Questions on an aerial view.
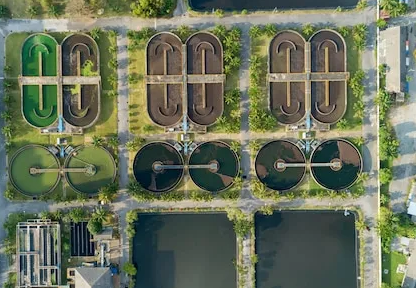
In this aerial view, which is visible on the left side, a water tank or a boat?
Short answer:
water tank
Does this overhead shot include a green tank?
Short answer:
Yes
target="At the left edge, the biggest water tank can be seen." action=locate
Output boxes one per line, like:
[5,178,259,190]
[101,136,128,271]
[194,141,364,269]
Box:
[20,32,102,135]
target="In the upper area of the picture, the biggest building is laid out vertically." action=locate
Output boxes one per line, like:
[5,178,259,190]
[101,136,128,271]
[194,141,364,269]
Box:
[377,26,403,94]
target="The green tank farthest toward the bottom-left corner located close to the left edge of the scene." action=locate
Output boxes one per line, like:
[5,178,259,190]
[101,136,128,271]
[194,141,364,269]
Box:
[9,145,61,197]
